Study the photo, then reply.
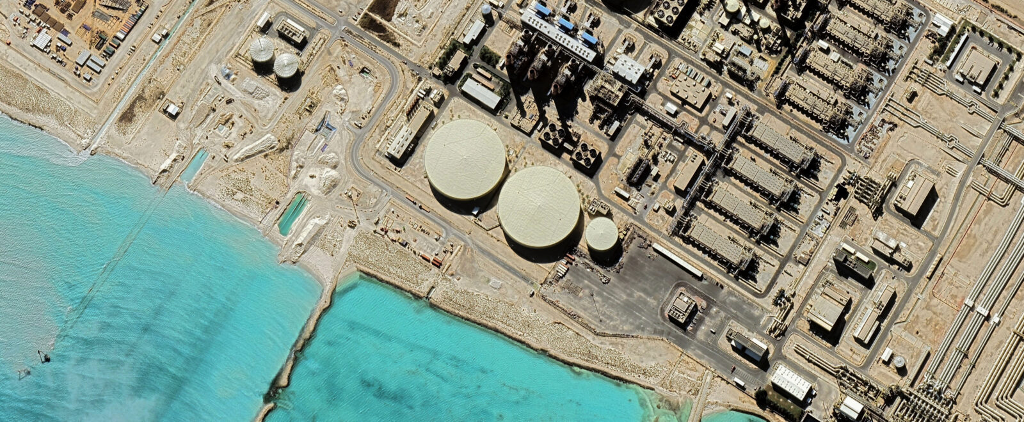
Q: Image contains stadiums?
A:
No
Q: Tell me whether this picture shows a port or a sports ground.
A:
port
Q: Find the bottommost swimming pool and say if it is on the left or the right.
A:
left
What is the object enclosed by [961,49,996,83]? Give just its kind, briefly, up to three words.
building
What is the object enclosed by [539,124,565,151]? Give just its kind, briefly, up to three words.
cooling tower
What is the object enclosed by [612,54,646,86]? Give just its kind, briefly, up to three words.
building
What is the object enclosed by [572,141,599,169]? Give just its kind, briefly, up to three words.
cooling tower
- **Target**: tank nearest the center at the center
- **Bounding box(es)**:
[497,166,580,250]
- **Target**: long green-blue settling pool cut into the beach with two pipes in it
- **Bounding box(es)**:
[277,193,309,236]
